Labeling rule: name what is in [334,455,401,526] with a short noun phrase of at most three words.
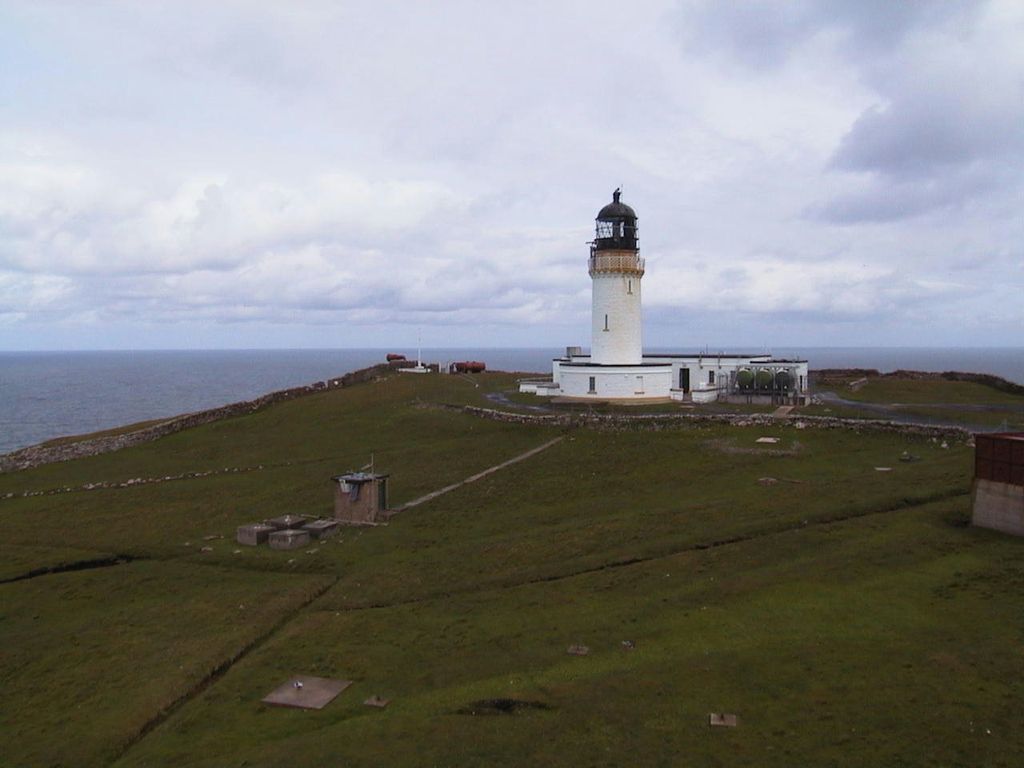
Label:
shed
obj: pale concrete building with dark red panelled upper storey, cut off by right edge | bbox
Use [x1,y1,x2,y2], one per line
[973,433,1024,536]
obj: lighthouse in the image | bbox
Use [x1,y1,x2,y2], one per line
[586,188,646,364]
